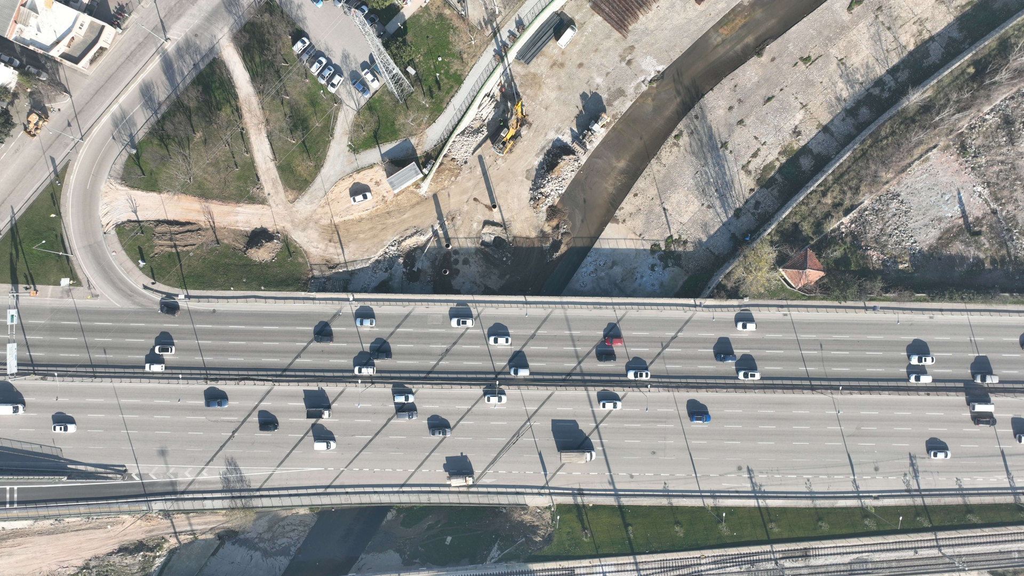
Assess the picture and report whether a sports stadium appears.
No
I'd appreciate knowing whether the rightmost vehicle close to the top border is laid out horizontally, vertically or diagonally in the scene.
diagonally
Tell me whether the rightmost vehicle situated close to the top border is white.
Yes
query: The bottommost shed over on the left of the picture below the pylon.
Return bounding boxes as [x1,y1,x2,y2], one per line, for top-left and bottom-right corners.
[386,162,425,195]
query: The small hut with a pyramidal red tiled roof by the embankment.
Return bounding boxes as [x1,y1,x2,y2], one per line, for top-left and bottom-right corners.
[775,248,826,290]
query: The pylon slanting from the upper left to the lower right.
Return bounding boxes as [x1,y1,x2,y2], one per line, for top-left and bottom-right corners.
[340,0,413,102]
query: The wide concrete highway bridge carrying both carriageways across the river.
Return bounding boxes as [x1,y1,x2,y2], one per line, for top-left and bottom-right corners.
[180,293,712,510]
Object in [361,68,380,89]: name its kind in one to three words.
car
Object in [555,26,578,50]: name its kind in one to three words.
vehicle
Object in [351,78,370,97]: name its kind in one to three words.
car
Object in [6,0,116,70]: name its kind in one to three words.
building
